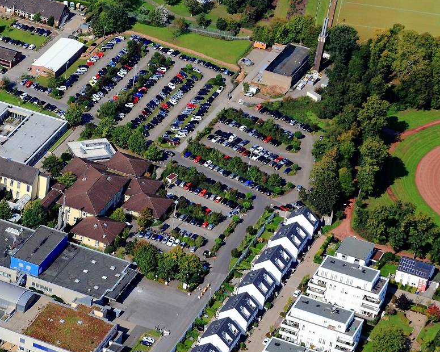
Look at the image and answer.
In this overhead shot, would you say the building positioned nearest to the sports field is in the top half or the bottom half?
top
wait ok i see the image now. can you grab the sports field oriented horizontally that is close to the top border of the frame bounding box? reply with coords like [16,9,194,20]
[335,0,440,39]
